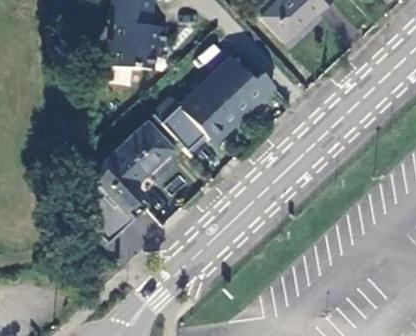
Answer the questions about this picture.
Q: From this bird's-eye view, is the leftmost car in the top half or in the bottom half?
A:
bottom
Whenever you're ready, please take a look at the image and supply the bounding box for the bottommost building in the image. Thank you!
[100,194,132,239]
